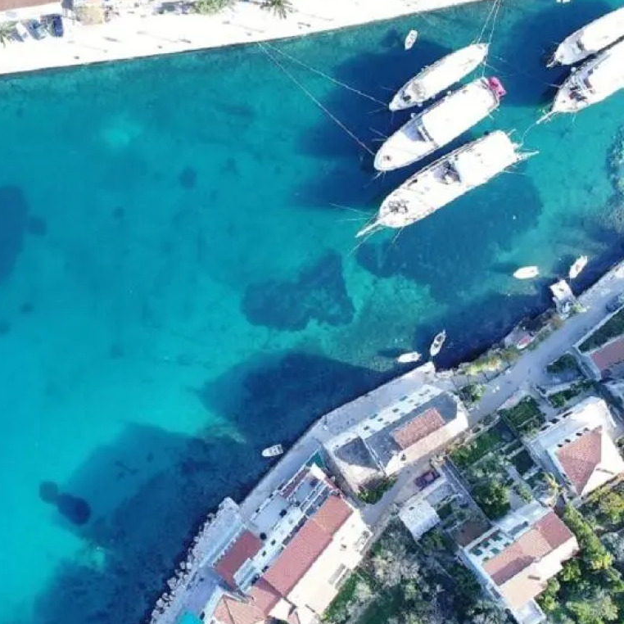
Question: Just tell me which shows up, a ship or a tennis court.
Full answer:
Of the two, only a ship appears.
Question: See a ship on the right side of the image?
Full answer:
Yes, there is a ship on the right side of the image.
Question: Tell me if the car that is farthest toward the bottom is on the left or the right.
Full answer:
The car that is farthest toward the bottom sits on the right side.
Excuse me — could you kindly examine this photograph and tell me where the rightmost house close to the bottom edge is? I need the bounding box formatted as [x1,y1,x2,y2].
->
[457,497,585,624]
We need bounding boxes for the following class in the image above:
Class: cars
[13,21,31,43]
[52,12,63,37]
[604,291,624,309]
[416,467,439,488]
[30,16,47,41]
